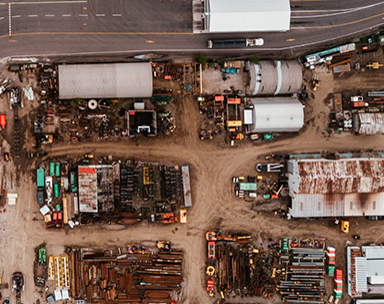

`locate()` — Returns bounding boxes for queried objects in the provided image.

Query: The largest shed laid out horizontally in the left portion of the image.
[57,65,155,99]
